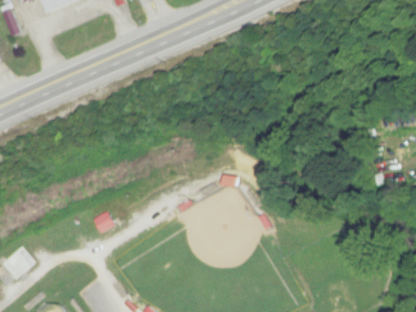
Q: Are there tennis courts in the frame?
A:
No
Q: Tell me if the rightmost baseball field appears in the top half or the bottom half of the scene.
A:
bottom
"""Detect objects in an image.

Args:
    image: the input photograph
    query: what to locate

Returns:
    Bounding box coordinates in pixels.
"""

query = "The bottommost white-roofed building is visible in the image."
[3,246,37,280]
